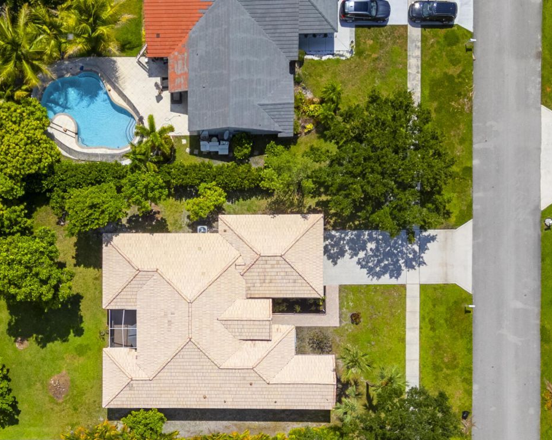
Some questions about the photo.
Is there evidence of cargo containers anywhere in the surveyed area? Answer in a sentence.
No, there's no cargo container here.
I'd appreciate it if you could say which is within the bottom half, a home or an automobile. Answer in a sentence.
You can see a home within the bottom half.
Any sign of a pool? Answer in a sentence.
Yes, there's a pool down there.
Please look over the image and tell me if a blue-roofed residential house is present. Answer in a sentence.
No, there is no blue-roofed residential house in the image.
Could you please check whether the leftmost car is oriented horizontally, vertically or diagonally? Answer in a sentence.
I'd say the leftmost car is aligned horizontally in the picture.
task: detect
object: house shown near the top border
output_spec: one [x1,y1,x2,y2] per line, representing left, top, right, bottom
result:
[144,0,338,137]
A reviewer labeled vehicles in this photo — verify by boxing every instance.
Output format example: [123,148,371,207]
[340,1,391,24]
[408,0,458,25]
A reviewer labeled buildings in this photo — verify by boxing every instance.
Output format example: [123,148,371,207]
[144,0,338,137]
[103,214,337,408]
